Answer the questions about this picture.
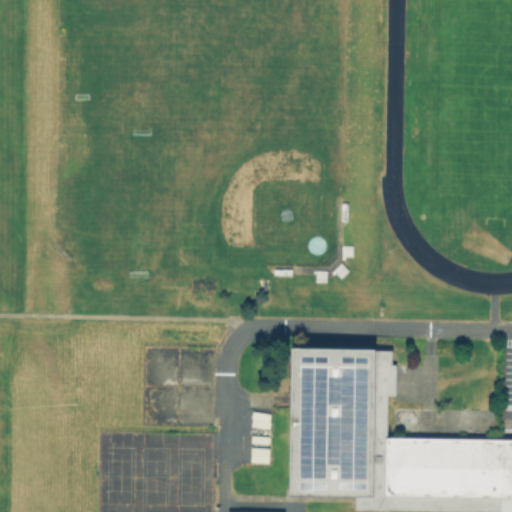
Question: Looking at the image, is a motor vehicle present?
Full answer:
No, this view has no motor vehicle in it.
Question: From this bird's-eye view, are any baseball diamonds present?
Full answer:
Yes, this view includes a baseball diamond.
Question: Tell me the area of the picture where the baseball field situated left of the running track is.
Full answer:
Look in the center portion of the view to spot the baseball field situated left of the running track.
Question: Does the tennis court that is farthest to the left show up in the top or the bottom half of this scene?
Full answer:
The tennis court that is farthest to the left sits in the bottom half of the picture.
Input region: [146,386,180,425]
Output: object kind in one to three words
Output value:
sports court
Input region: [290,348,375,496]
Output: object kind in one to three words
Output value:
building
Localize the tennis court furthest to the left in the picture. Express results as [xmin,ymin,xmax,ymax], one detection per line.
[101,433,140,512]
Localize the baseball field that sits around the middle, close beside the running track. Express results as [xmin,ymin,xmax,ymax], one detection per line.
[222,150,330,262]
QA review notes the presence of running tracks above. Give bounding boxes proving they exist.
[383,0,512,294]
